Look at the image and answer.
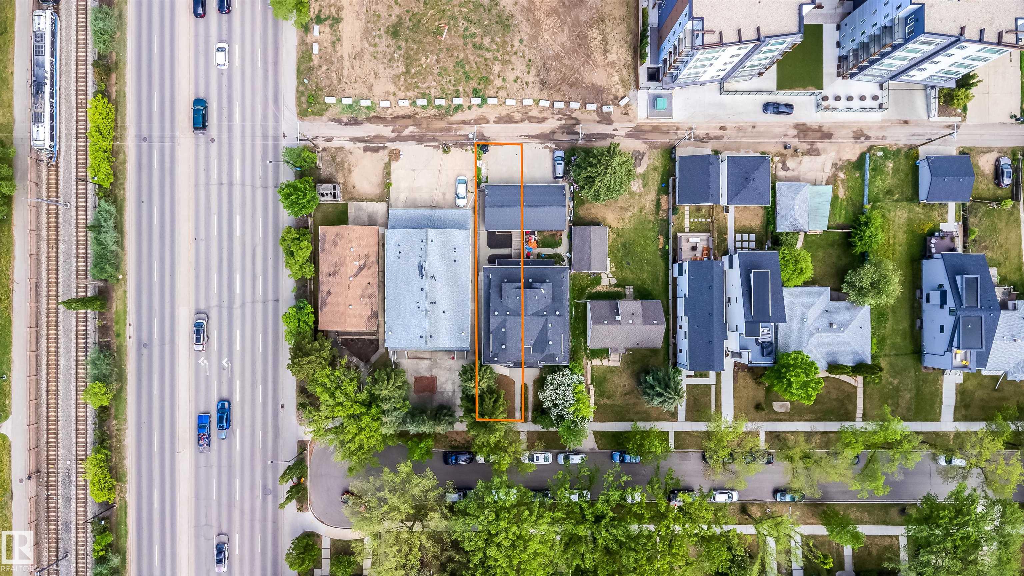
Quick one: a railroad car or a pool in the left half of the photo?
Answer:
railroad car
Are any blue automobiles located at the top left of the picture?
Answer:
Yes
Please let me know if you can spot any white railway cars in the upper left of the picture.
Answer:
Yes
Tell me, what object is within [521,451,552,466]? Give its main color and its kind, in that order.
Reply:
white car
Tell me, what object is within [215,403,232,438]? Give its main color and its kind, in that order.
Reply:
blue car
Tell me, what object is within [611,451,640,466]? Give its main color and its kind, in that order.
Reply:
blue car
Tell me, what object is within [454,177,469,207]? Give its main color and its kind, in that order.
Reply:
white car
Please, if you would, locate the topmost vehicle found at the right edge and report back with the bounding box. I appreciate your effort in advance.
[994,157,1013,188]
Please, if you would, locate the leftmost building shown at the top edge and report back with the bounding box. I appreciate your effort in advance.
[656,0,816,91]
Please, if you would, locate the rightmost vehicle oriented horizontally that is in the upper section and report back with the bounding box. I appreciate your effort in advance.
[762,101,794,116]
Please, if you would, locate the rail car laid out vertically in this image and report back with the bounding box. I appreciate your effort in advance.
[29,5,58,165]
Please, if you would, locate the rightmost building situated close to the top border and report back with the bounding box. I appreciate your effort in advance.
[840,0,1024,91]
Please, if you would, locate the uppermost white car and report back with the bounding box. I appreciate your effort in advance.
[215,43,230,70]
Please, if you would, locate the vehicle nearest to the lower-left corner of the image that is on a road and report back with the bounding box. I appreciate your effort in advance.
[213,536,230,570]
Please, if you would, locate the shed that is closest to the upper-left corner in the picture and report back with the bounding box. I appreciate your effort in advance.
[316,183,339,202]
